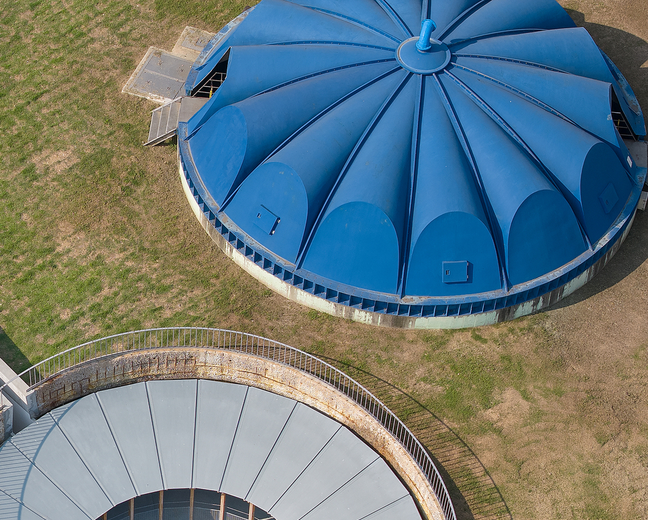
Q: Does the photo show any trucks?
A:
No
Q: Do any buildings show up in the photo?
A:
No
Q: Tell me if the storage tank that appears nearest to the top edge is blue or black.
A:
blue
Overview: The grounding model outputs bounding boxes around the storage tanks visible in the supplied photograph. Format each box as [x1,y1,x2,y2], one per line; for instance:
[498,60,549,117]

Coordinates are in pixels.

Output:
[179,0,647,329]
[0,342,453,520]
